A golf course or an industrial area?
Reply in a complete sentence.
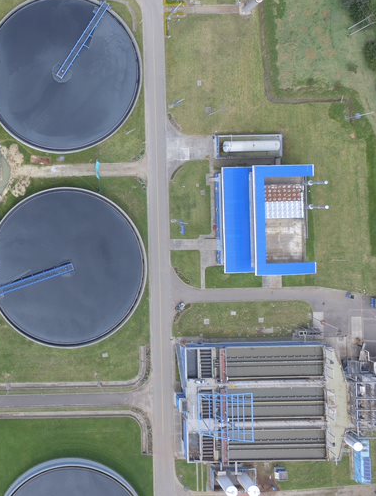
This looks like an industrial area.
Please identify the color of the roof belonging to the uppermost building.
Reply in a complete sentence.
From above, the roof of the uppermost building looks blue.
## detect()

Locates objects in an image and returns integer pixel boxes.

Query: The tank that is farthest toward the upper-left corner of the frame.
[0,0,142,153]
